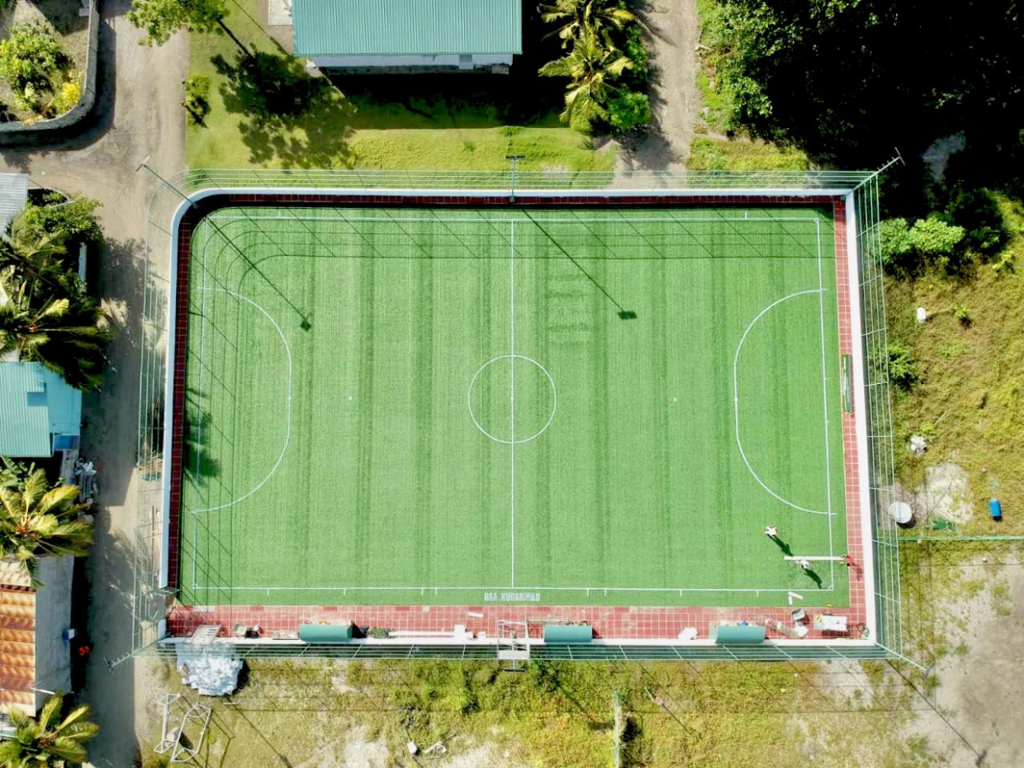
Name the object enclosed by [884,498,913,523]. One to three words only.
water tank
